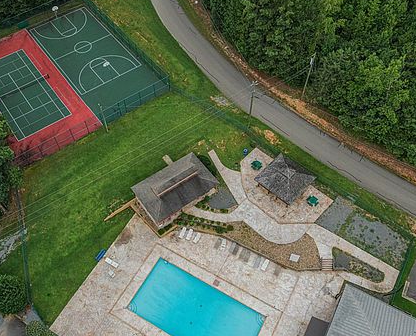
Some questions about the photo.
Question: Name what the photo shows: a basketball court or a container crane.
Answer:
basketball court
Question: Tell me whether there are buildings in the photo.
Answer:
Yes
